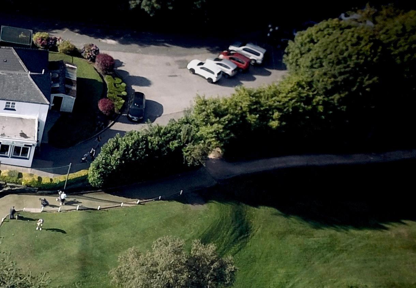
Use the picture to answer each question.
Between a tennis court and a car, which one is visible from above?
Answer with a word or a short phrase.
car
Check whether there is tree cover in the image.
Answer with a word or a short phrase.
Yes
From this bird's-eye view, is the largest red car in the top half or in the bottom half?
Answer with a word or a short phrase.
top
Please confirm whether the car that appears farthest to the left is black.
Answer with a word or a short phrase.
Yes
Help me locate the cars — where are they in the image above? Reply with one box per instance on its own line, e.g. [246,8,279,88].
[184,61,227,86]
[126,89,147,122]
[226,43,270,66]
[204,57,242,79]
[215,51,254,73]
